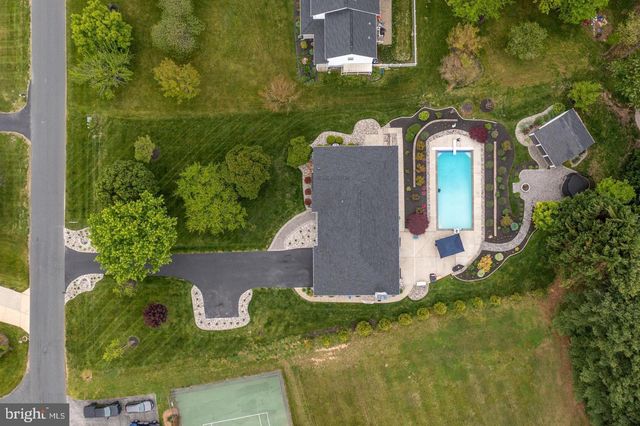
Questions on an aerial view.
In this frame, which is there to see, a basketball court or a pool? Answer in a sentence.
This aerial view contains a pool.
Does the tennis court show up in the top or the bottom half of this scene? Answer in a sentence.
The tennis court sits in the bottom half of the picture.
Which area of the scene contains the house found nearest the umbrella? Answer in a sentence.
The house found nearest the umbrella is located in the center region of the scene.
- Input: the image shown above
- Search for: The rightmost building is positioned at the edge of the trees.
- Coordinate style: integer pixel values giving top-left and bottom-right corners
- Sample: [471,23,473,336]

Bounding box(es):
[526,107,596,168]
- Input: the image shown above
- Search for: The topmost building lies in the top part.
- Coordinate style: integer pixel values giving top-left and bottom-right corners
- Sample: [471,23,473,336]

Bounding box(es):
[301,0,378,79]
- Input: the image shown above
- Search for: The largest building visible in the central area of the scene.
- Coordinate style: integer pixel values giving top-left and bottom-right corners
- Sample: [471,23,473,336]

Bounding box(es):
[312,145,400,302]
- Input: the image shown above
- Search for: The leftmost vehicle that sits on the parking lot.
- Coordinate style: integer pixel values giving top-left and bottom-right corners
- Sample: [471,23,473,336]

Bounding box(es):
[83,402,121,419]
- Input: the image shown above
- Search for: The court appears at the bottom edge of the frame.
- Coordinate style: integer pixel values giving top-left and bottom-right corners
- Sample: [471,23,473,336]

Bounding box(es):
[171,370,291,426]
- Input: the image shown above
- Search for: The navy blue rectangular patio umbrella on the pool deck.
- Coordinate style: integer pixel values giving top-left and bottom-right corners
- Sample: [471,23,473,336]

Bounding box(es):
[435,234,464,258]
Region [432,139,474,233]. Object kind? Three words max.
swimming pool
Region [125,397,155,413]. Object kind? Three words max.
car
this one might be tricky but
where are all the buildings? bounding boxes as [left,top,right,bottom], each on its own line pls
[526,107,596,168]
[301,0,378,79]
[312,145,400,302]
